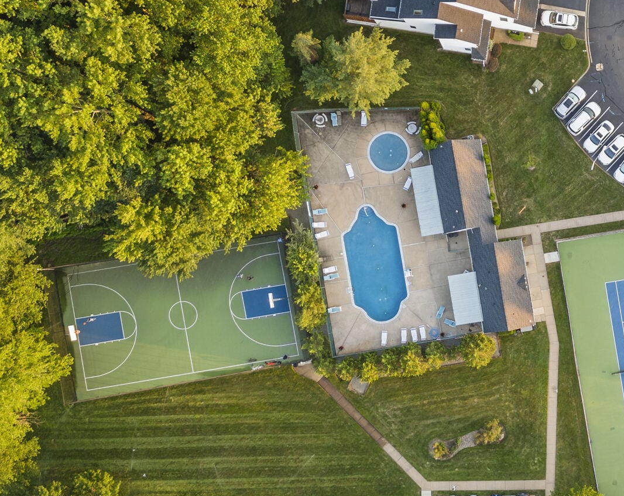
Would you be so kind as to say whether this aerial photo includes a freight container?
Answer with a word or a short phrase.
No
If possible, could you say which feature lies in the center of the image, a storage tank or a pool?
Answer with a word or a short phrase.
pool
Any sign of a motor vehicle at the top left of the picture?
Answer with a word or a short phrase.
No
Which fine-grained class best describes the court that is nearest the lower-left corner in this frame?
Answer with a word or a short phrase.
basketball court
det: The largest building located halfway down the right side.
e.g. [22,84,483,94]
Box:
[428,139,536,332]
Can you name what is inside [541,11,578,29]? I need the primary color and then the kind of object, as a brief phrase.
white car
